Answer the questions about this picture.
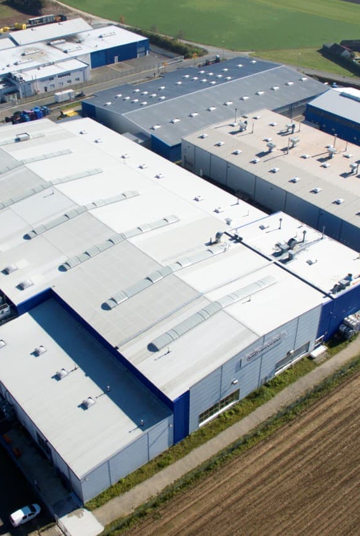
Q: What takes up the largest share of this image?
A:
buildings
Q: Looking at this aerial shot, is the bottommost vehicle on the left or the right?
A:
left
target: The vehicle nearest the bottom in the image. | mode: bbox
[5,500,45,528]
